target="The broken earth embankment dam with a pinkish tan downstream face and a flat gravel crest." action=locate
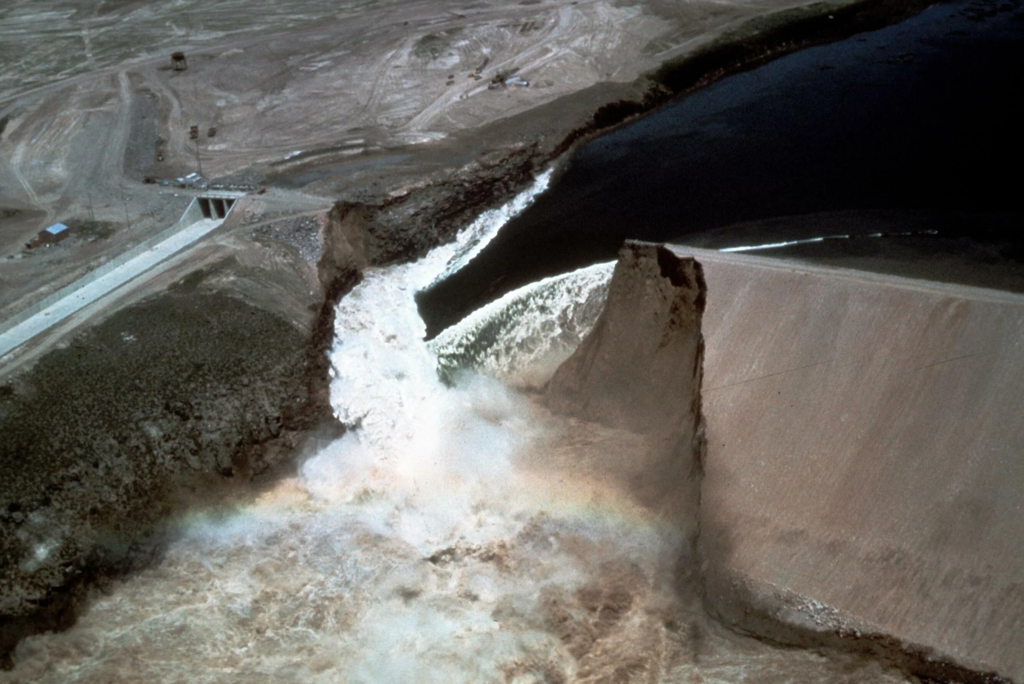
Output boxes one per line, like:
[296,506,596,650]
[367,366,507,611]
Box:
[546,235,1024,683]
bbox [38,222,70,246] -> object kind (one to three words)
shed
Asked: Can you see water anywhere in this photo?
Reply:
Yes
